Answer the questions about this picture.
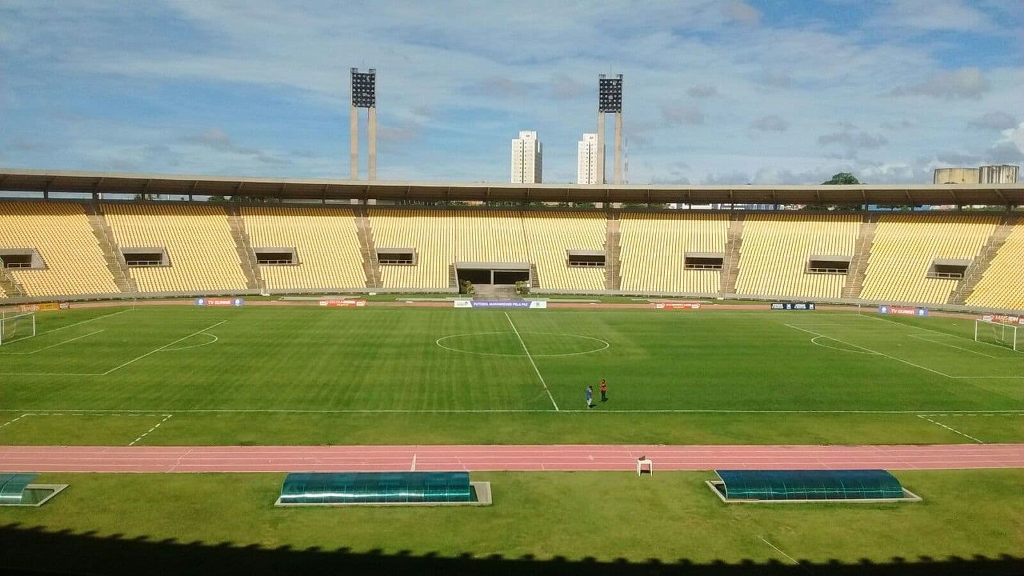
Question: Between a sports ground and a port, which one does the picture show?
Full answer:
The area seen from above is a sports ground.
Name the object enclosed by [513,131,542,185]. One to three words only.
building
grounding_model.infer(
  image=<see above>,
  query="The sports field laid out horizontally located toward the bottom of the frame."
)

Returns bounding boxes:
[0,306,1024,560]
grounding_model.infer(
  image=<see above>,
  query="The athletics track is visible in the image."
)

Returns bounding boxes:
[0,301,1024,473]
